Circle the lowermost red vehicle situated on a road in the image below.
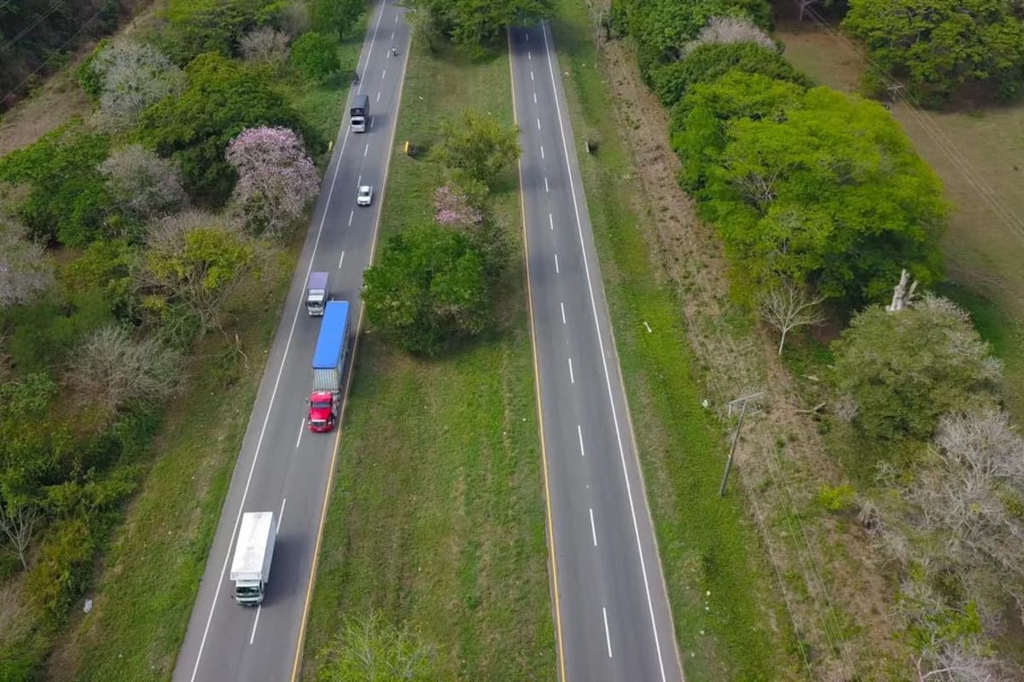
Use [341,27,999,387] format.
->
[307,385,342,431]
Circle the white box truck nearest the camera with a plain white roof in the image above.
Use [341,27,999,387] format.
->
[231,510,277,605]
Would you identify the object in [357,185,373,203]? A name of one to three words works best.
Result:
car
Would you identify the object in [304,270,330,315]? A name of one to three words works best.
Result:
truck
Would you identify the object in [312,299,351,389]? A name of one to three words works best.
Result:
trailer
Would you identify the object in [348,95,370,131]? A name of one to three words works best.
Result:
truck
